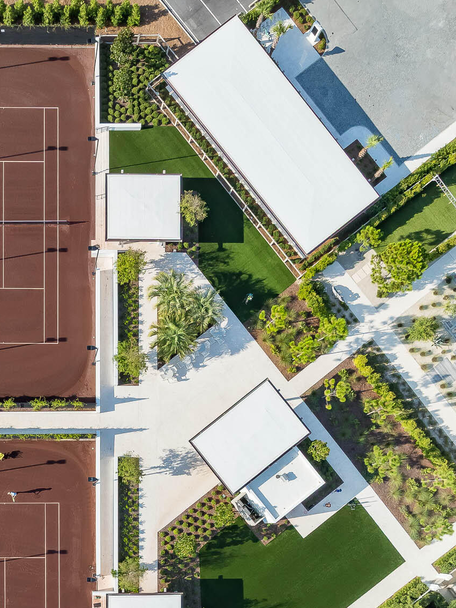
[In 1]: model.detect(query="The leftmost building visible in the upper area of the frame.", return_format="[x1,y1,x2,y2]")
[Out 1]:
[106,171,182,251]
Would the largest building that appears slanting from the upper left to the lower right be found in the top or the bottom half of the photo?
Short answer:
top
